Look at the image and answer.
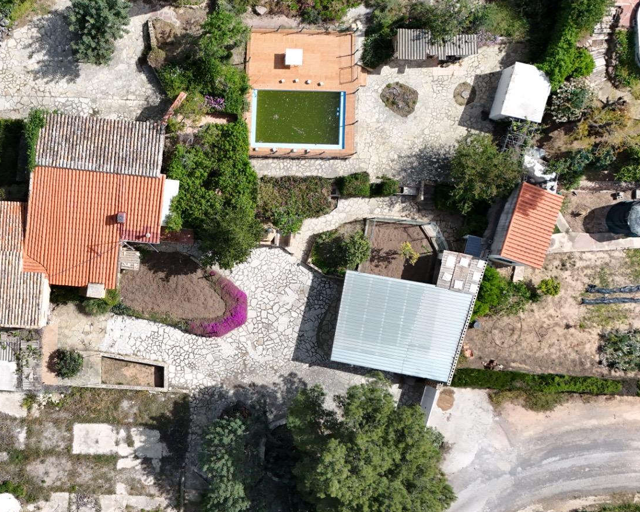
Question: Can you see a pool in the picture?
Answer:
Yes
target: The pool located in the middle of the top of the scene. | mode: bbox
[244,26,366,159]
